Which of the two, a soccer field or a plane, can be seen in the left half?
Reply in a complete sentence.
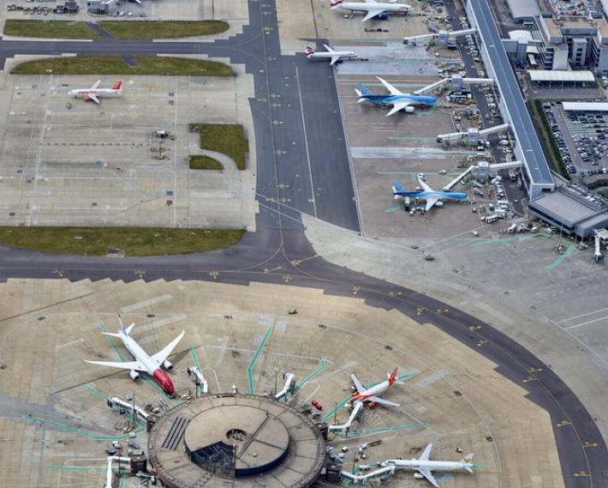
Visible in the left half is a plane.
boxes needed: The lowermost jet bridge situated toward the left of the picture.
[104,452,133,488]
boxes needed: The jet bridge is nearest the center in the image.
[272,370,293,402]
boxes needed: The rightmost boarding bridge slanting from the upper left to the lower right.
[186,365,211,397]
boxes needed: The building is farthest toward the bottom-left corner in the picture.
[130,395,341,488]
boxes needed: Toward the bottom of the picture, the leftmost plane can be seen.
[90,311,187,391]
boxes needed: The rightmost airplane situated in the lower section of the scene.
[381,441,474,486]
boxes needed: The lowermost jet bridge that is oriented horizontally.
[340,464,398,487]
